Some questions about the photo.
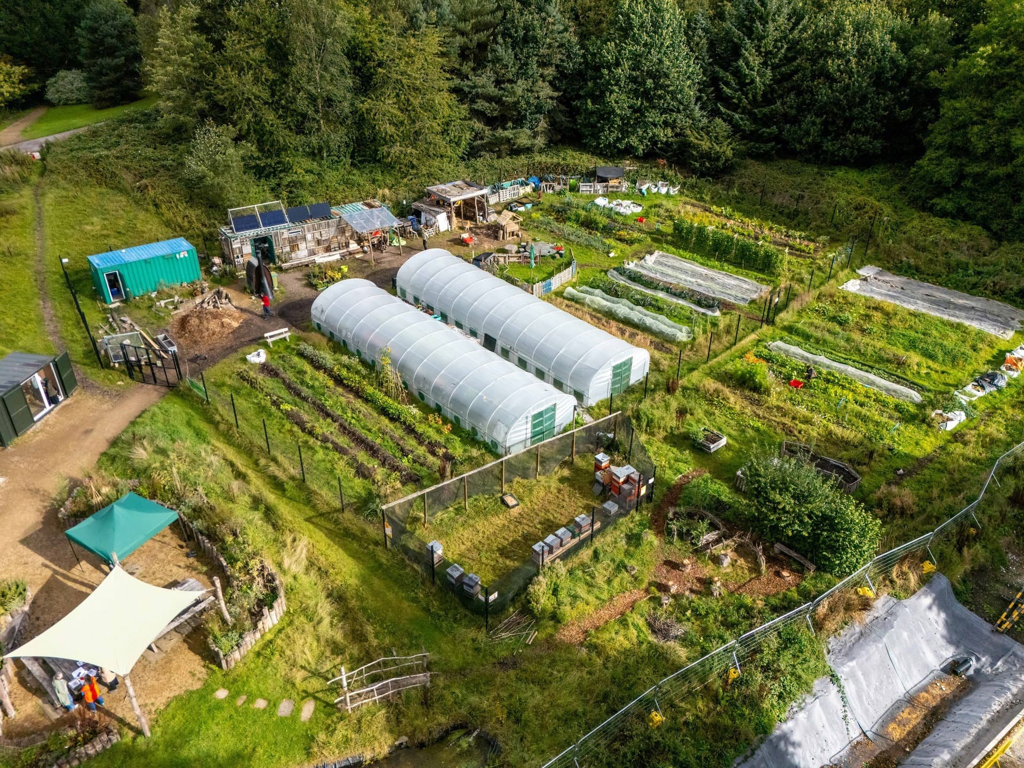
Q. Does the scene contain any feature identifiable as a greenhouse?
Yes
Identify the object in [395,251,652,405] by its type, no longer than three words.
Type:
greenhouse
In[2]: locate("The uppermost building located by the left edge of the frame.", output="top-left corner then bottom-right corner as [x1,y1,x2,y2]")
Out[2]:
[0,347,81,447]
